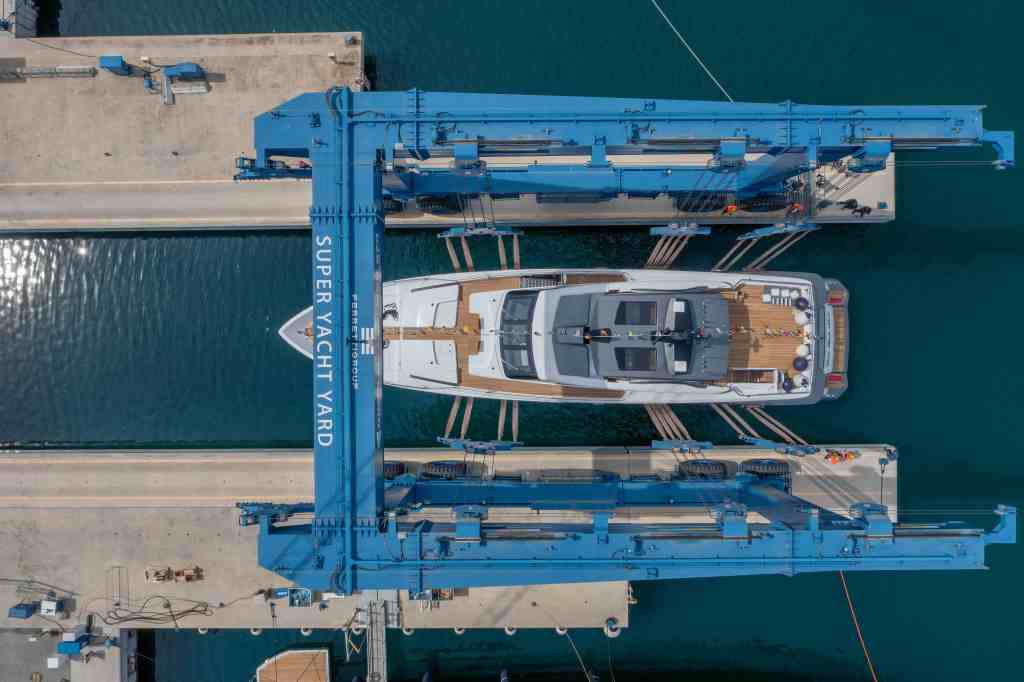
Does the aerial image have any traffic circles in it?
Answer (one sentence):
No, the frame has no traffic circle in it.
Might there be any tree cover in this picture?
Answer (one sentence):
No, the picture contains no tree cover.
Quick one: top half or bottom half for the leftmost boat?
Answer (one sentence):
The leftmost boat sits in the bottom half of the picture.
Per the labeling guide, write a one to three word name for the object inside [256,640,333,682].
boat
